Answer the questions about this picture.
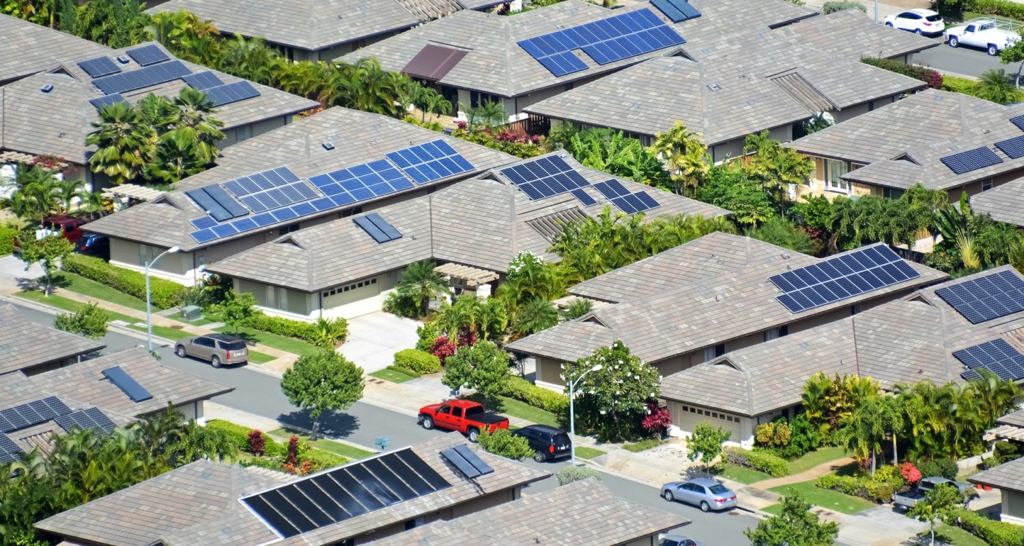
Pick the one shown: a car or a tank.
car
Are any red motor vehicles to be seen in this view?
Yes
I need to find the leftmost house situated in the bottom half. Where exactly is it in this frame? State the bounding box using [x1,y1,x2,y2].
[0,307,110,378]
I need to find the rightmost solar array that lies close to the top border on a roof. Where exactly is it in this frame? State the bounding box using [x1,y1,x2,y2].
[517,8,682,78]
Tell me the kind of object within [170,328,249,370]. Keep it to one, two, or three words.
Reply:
car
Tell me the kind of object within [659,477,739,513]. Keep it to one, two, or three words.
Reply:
car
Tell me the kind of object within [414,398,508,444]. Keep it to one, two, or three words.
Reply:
vehicle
